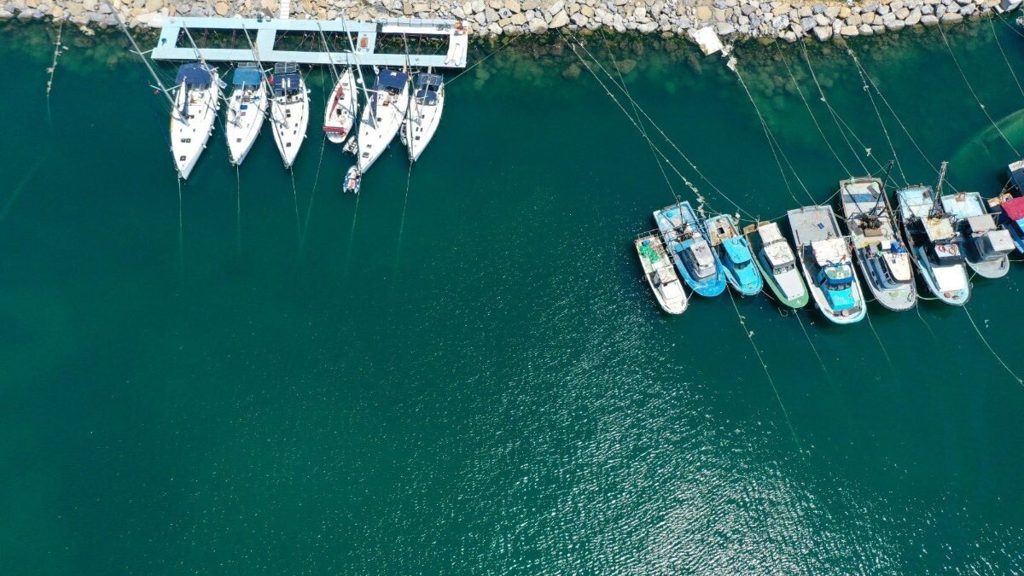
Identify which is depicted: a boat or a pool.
boat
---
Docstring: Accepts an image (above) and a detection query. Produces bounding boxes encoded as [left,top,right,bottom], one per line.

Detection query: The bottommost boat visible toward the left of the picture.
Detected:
[343,167,363,198]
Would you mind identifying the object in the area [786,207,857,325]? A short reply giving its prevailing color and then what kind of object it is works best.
white boat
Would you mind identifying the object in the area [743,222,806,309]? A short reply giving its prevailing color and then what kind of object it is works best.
white boat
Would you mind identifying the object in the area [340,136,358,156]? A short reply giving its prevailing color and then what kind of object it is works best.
gray boat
